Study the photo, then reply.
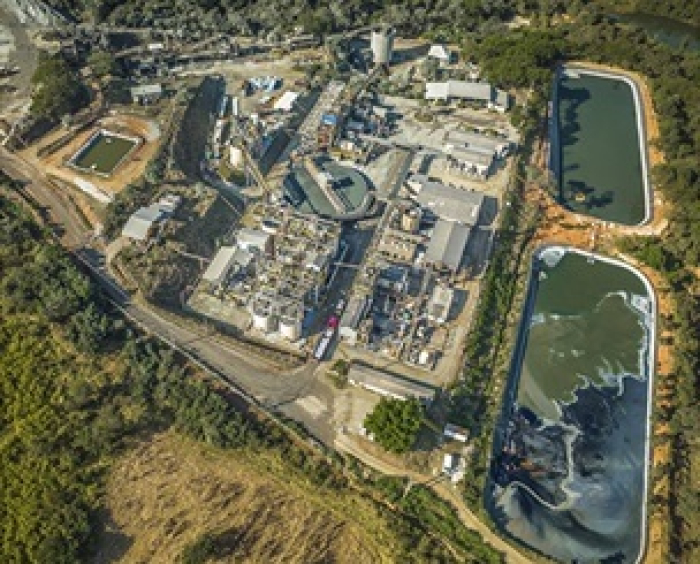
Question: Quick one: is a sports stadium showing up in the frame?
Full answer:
No, the photo shows no sports stadium.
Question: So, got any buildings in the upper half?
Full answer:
Yes, there is a building in the upper half.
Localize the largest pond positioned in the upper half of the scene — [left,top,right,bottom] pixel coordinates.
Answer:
[549,61,652,230]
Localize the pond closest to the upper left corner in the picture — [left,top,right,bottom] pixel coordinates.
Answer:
[67,130,142,177]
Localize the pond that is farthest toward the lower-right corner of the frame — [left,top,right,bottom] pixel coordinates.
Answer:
[485,244,658,564]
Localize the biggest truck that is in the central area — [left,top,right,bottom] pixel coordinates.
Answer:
[315,312,341,360]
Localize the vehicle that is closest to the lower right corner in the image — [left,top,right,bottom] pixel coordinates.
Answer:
[452,461,465,481]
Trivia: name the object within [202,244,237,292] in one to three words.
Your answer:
building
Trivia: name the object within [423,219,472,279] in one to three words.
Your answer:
building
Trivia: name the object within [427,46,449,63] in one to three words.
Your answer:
house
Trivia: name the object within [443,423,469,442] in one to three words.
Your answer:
shed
